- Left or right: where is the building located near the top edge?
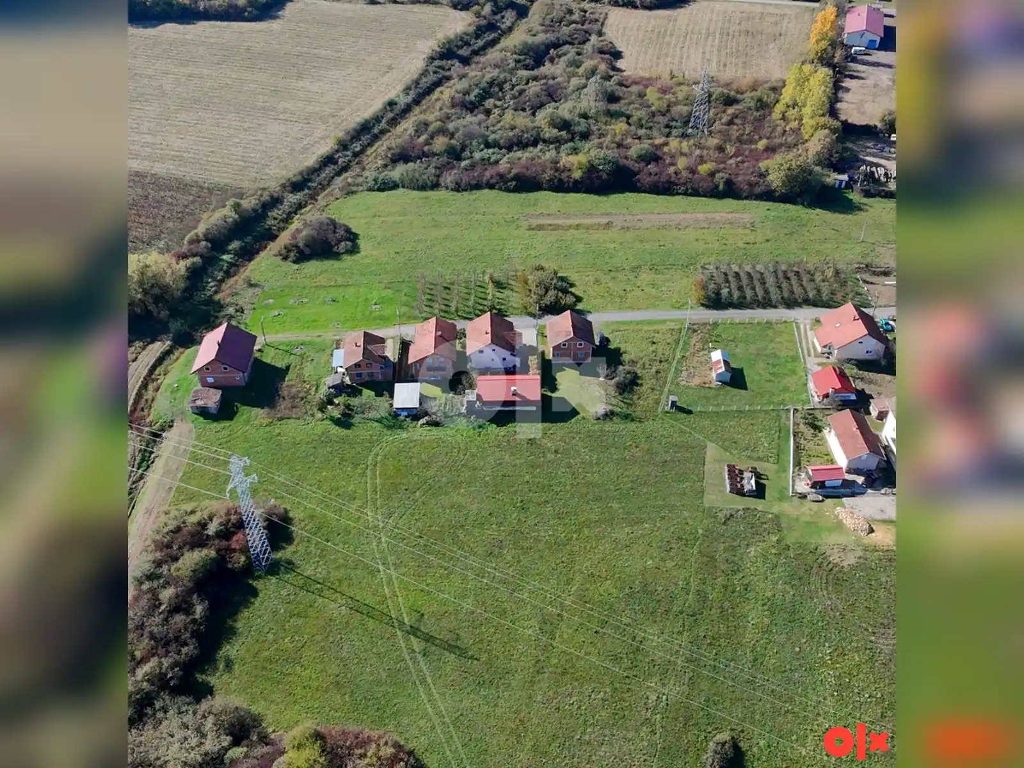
right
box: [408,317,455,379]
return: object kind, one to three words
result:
house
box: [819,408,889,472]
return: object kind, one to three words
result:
house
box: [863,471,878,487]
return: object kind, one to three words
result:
car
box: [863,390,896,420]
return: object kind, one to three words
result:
building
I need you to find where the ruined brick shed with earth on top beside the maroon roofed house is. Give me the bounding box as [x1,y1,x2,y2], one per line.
[189,393,225,415]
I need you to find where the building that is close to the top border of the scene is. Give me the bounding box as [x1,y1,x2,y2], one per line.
[846,6,887,49]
